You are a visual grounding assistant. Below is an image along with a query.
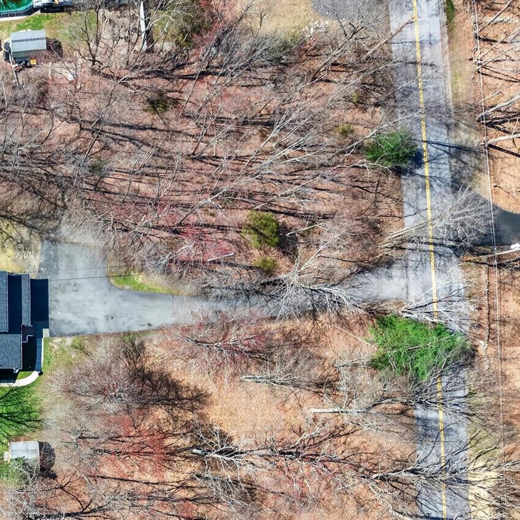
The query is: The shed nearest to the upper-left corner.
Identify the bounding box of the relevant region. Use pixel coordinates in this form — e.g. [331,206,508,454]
[11,29,47,65]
